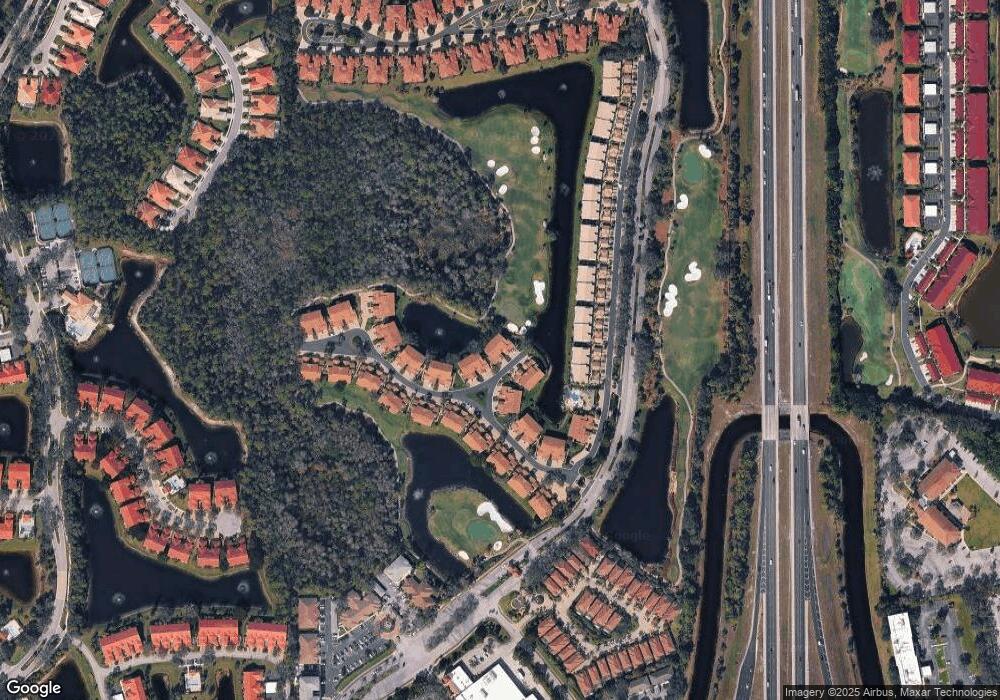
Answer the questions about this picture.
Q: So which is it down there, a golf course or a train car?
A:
golf course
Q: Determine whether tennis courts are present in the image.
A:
Yes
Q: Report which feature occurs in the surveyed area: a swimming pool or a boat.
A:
swimming pool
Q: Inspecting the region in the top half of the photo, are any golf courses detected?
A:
Yes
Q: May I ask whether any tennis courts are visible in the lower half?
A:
No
